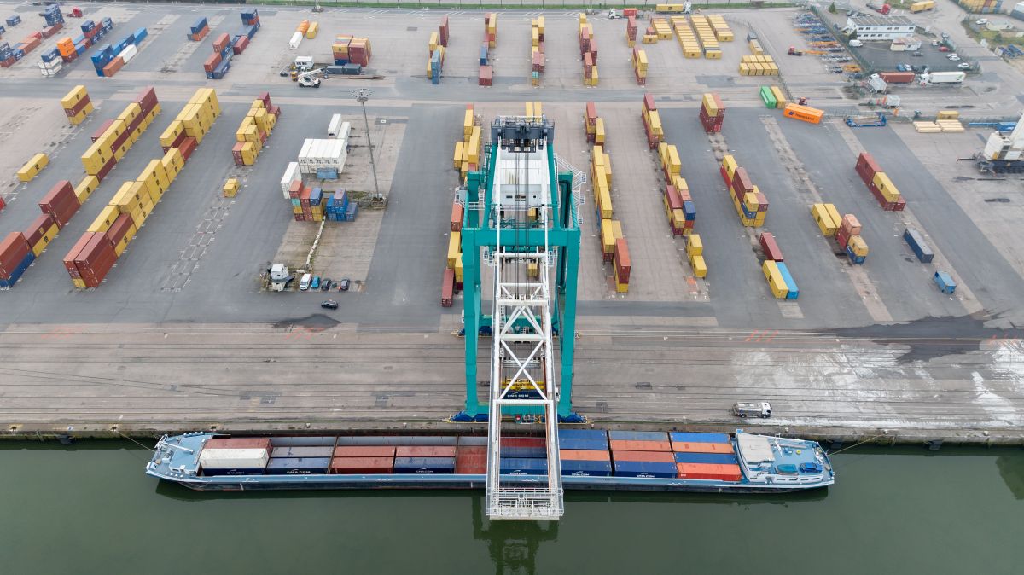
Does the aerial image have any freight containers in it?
Yes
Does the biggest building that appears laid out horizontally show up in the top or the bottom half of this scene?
top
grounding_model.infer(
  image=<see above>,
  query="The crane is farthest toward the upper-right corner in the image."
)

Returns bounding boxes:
[960,130,1024,178]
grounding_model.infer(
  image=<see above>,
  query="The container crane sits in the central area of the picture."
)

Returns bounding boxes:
[439,121,601,520]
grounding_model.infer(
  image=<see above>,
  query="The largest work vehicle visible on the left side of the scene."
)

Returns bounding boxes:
[297,61,327,87]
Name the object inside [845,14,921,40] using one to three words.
building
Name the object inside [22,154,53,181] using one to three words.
shipping container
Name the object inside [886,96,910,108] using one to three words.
vehicle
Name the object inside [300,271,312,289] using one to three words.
vehicle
